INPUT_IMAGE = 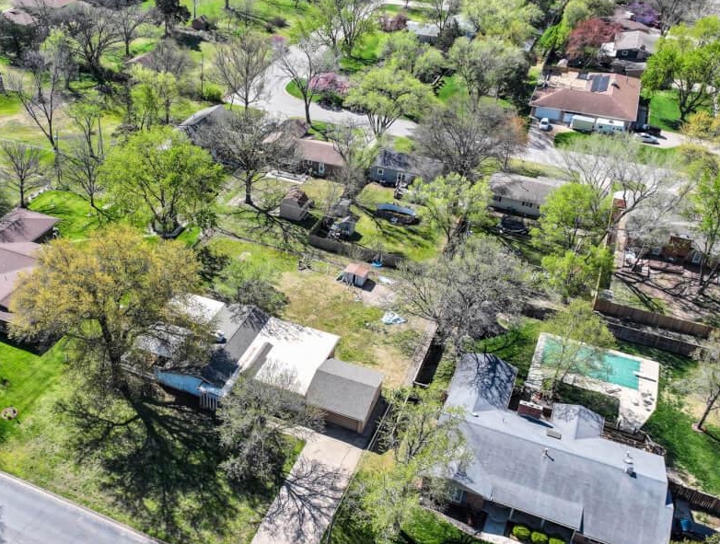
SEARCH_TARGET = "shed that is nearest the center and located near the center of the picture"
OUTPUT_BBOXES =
[343,262,369,285]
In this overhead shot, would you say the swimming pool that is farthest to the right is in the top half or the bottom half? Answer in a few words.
bottom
